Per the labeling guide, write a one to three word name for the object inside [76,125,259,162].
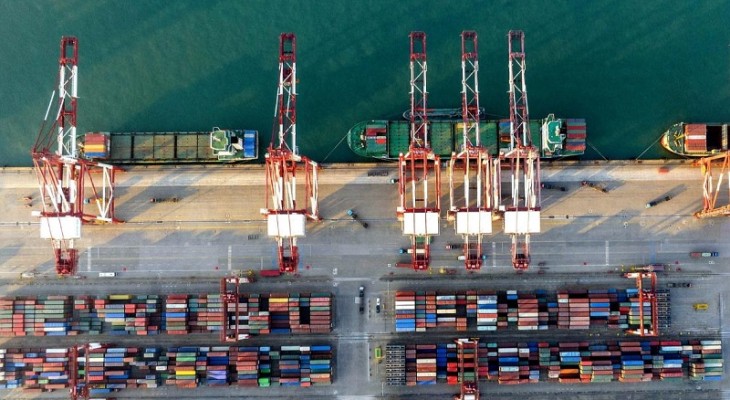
ship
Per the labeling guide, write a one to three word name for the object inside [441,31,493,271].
container crane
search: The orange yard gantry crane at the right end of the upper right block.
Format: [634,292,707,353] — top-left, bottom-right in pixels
[624,272,657,338]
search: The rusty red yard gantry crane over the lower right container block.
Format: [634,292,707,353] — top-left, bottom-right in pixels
[450,333,483,400]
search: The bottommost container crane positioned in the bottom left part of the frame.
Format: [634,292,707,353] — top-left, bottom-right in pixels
[72,337,110,400]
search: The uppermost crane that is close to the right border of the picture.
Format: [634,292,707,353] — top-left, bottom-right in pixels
[694,153,730,217]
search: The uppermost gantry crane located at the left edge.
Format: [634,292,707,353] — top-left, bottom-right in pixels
[34,36,125,276]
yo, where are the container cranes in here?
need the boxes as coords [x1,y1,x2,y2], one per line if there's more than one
[450,333,483,400]
[72,337,110,400]
[256,33,323,273]
[222,277,253,343]
[487,31,541,271]
[389,31,443,272]
[694,153,730,217]
[441,31,493,271]
[34,36,125,276]
[624,272,657,338]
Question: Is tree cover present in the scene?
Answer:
No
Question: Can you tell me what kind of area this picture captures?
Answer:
port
